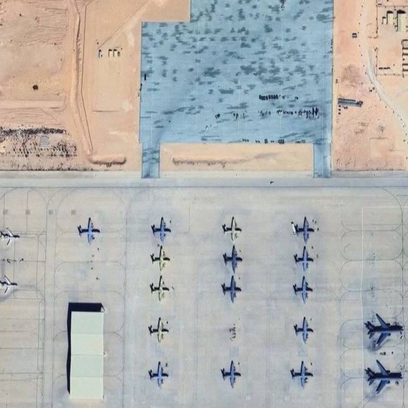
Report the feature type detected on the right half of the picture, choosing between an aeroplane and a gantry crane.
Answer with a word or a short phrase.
aeroplane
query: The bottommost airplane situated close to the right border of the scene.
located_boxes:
[366,359,402,392]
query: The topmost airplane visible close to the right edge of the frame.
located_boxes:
[365,313,403,345]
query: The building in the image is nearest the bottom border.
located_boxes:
[70,310,105,400]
